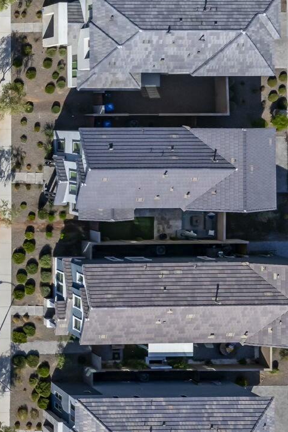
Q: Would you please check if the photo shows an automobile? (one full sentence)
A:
No, there is no automobile in the image.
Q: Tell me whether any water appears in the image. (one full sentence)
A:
No, no water is visible.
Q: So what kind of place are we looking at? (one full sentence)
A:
The picture captures a residential area.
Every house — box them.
[39,127,277,223]
[43,0,283,92]
[43,381,275,432]
[37,255,288,357]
